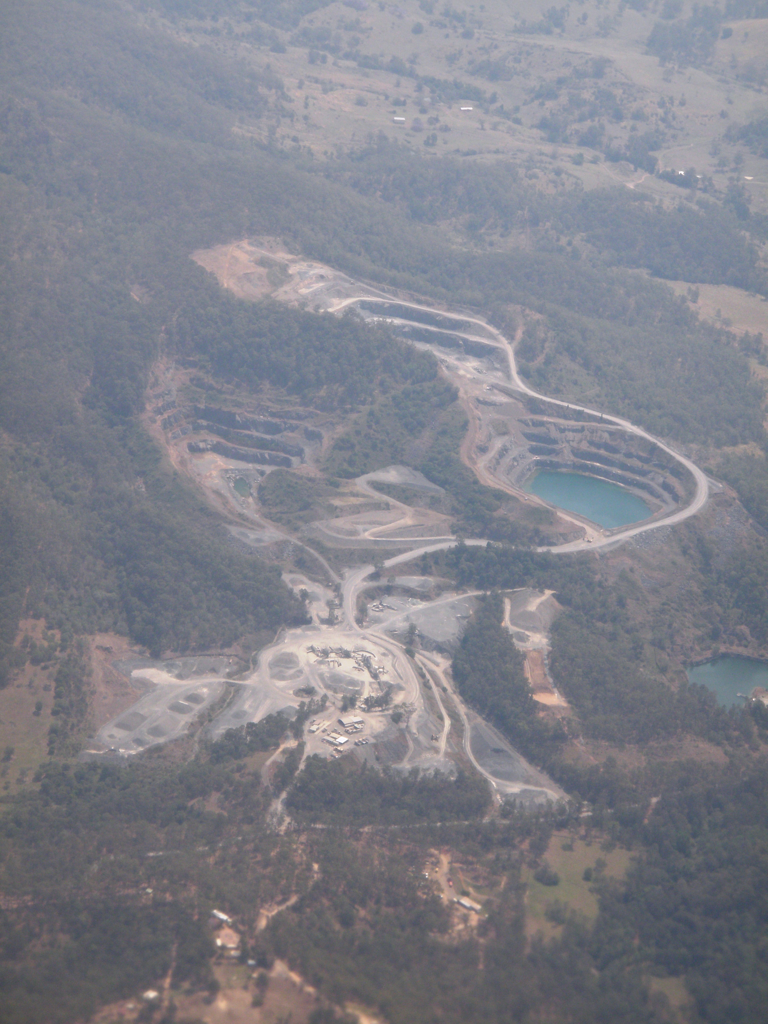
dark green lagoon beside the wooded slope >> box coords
[683,653,768,717]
